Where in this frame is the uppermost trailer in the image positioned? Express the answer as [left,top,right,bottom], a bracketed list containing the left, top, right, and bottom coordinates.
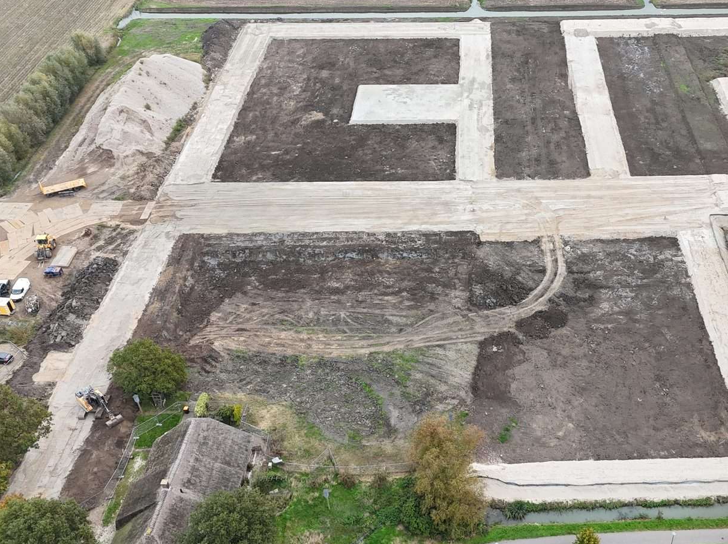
[33,175,84,199]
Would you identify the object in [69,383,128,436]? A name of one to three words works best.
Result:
work vehicle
